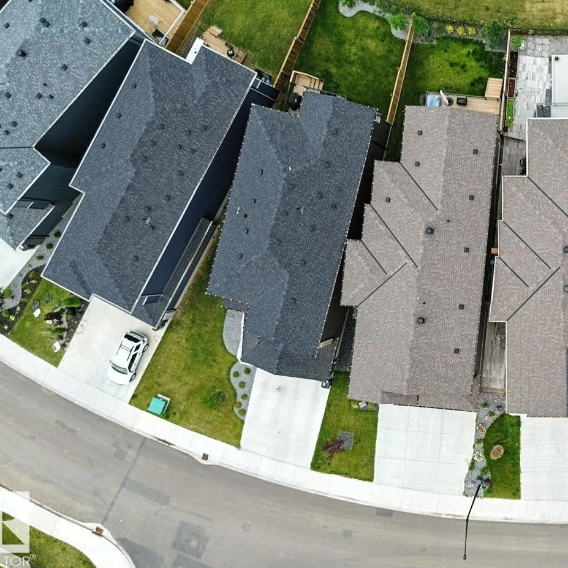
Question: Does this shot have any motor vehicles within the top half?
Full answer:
No, there's no motor vehicle to be seen within the top half.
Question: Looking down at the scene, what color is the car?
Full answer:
The car looks white in the image.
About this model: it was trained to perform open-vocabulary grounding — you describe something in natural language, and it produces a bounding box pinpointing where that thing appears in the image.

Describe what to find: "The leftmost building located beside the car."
[40,37,269,330]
